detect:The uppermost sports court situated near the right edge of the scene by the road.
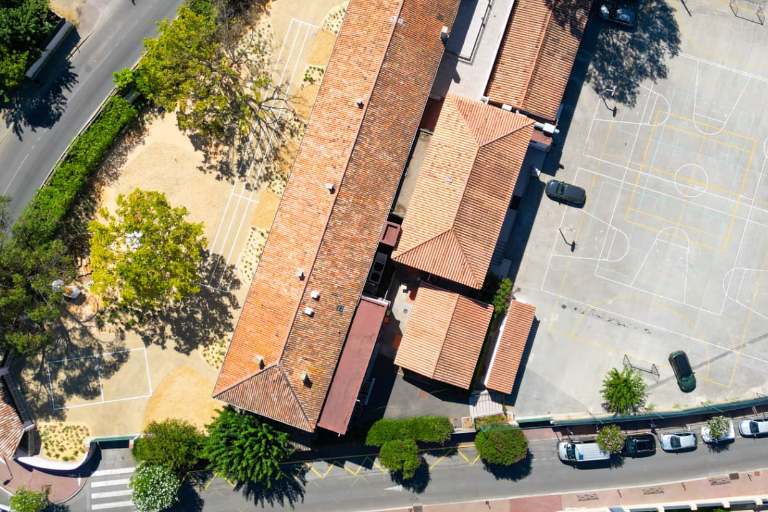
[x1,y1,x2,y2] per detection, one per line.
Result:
[478,0,768,422]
